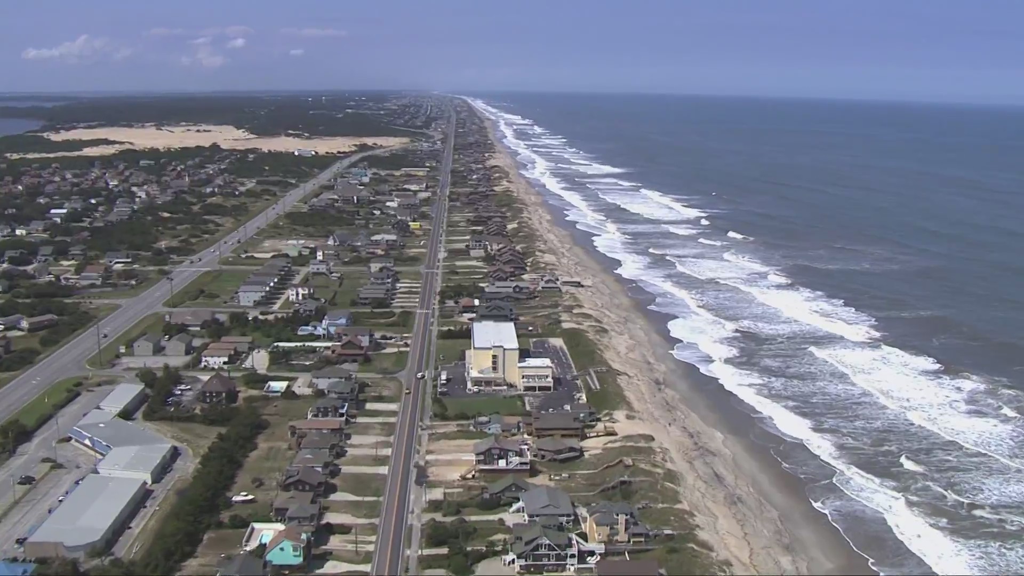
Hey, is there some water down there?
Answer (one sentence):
Yes, there's water in this view.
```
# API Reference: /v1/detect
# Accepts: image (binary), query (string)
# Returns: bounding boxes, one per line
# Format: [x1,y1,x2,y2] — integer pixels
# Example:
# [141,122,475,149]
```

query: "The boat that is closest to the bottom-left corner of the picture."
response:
[229,486,259,501]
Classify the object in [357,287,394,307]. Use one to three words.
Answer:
house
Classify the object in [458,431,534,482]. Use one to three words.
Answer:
house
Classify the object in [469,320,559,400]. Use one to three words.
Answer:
building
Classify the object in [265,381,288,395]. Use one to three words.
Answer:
swimming pool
